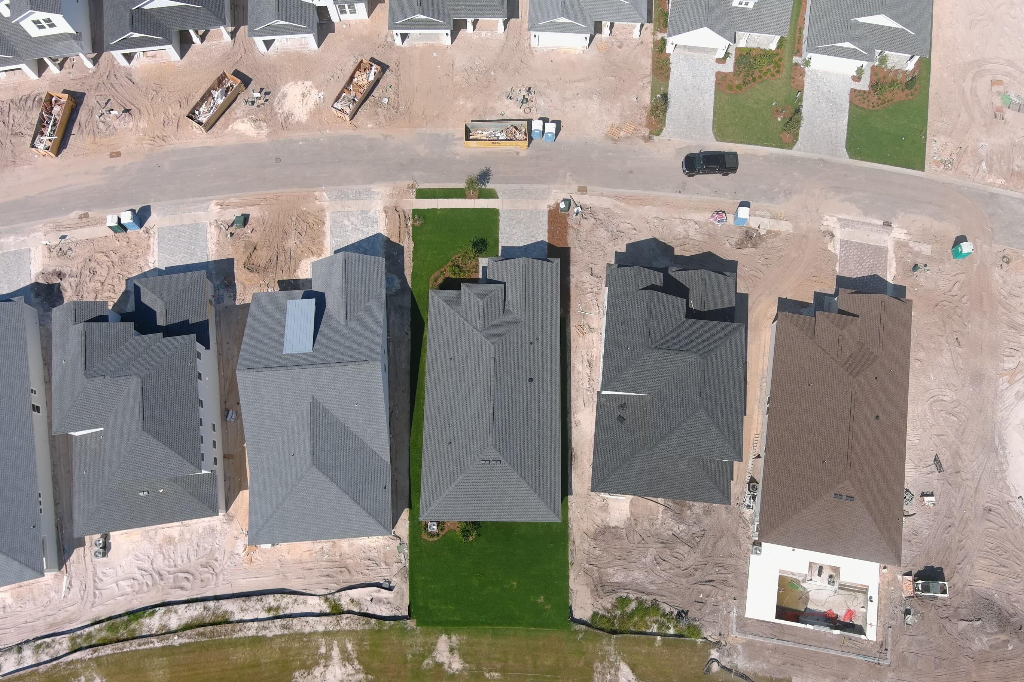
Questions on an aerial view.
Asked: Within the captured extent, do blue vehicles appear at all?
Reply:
No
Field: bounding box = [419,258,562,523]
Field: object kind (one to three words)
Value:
house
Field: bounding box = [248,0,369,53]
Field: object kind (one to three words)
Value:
house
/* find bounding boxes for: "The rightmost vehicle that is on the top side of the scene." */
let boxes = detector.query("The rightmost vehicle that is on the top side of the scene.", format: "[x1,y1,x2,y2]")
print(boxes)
[680,152,739,178]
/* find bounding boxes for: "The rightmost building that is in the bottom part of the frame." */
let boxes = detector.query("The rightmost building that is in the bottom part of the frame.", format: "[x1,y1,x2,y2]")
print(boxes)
[752,287,914,568]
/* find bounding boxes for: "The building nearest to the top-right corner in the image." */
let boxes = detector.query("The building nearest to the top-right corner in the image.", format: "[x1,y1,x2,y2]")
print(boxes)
[801,0,932,75]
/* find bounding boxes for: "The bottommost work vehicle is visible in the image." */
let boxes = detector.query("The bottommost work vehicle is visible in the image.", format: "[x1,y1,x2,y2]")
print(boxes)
[903,577,956,603]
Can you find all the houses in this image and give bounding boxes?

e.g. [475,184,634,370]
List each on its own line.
[419,258,562,523]
[248,0,369,53]
[666,0,793,57]
[528,0,647,49]
[236,251,393,546]
[590,259,745,506]
[801,0,932,75]
[752,287,914,568]
[0,0,94,84]
[53,270,225,539]
[0,296,60,587]
[388,0,507,45]
[107,0,234,65]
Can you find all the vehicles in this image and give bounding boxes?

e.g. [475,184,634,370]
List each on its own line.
[680,152,739,178]
[903,577,956,603]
